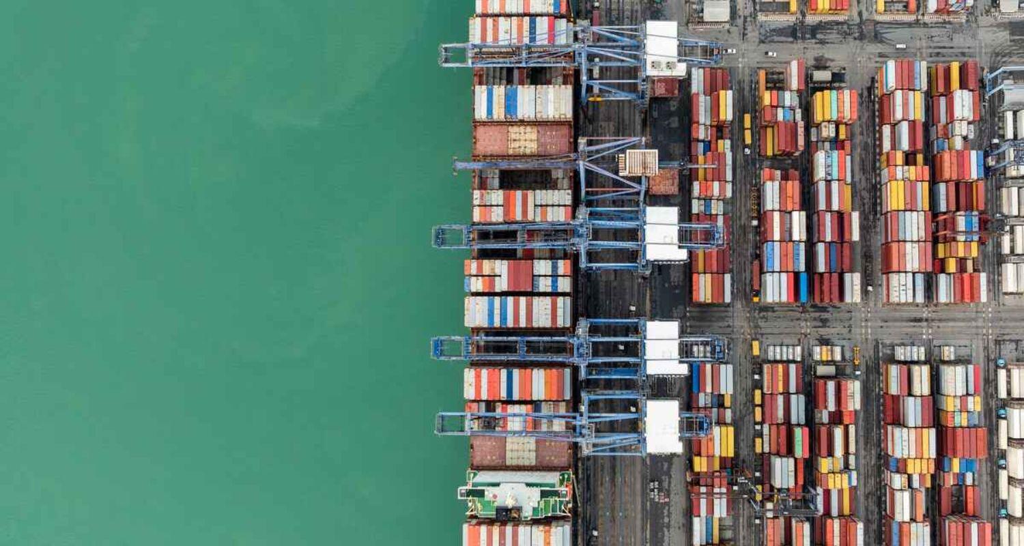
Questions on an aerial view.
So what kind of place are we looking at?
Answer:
port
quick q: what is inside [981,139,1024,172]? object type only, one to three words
container crane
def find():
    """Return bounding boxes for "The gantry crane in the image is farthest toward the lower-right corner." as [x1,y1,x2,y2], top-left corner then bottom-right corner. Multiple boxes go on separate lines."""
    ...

[748,475,819,520]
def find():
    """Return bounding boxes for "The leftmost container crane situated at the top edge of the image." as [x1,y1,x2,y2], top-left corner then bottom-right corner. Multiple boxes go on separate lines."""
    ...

[438,22,724,122]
